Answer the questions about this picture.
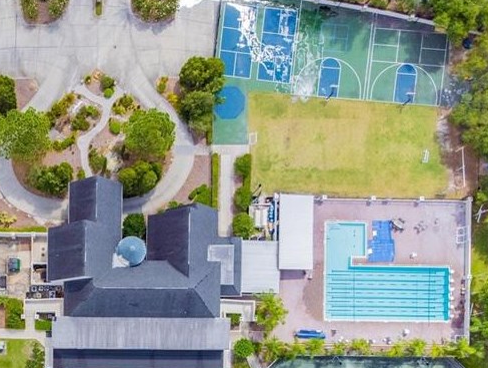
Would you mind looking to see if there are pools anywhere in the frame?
Yes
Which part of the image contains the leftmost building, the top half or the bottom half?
bottom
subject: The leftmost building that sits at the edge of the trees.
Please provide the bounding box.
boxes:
[49,176,242,368]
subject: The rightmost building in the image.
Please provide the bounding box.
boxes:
[274,194,314,270]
